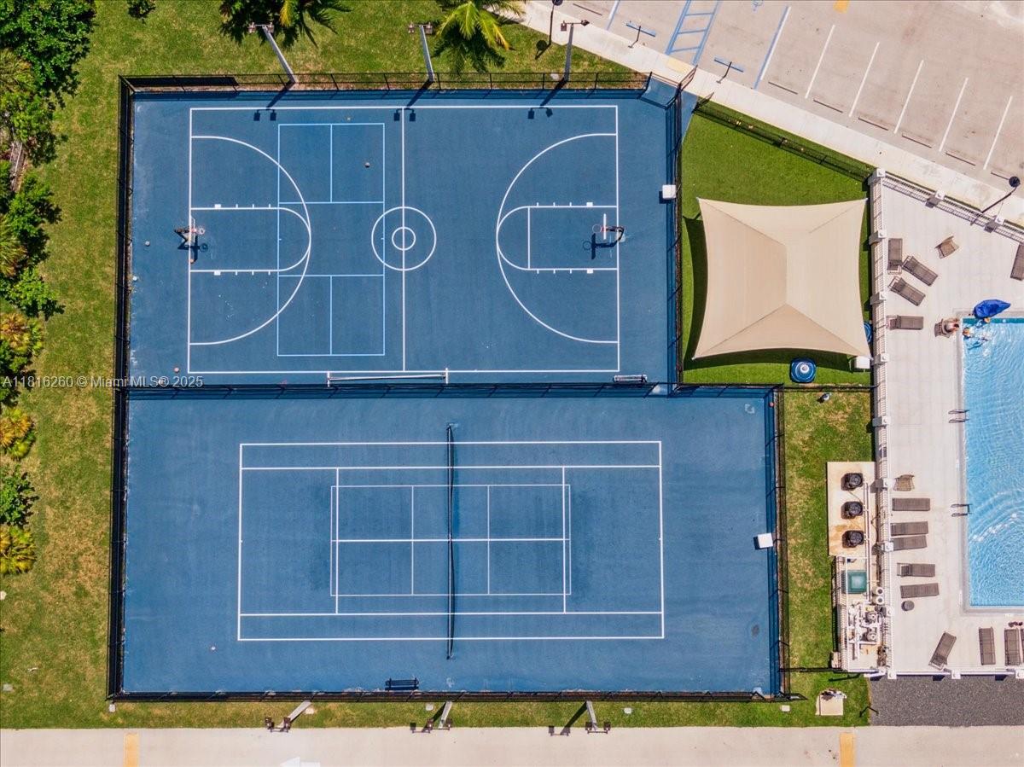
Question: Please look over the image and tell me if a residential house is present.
No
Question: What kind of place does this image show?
sports ground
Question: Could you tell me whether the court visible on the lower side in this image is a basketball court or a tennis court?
tennis court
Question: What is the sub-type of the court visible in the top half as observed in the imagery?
basketball court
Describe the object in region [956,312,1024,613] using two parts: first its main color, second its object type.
blue swimming pool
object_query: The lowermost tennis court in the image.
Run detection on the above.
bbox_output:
[123,386,779,694]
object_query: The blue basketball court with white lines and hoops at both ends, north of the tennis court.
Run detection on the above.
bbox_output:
[128,79,697,385]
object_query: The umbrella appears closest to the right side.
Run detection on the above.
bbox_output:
[973,301,1012,321]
